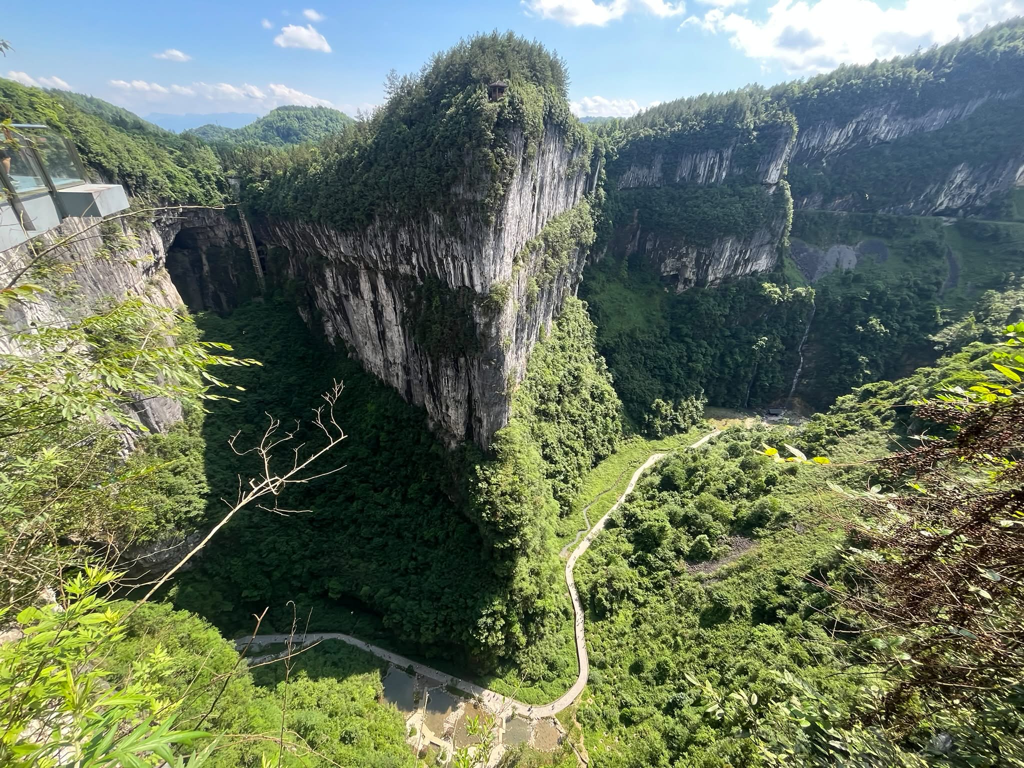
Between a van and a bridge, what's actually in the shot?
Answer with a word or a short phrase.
bridge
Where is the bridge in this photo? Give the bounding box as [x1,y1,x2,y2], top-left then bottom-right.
[156,161,305,326]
